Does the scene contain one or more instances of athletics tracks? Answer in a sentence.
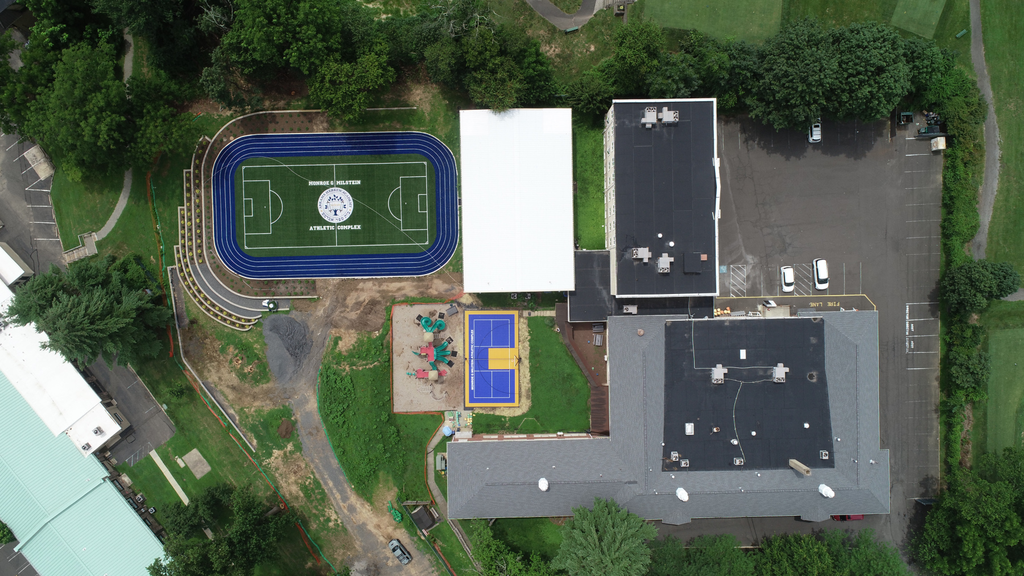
Yes, the photo shows an athletics track.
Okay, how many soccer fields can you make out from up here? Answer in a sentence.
Altogether the scene contains 1 soccer field.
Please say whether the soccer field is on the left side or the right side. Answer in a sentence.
It is on the left.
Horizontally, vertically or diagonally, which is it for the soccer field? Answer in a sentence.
Seen from above, the soccer field lies horizontally.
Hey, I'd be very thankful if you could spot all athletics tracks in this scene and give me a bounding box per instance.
[211,131,459,279]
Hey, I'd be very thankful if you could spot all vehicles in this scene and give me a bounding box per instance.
[831,514,866,522]
[806,115,823,145]
[261,302,276,312]
[779,266,796,293]
[812,258,830,290]
[388,536,412,568]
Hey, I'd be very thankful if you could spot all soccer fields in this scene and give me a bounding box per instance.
[234,154,436,256]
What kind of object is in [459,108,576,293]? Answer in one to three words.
building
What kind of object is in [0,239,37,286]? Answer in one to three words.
building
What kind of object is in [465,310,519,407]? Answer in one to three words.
sports court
